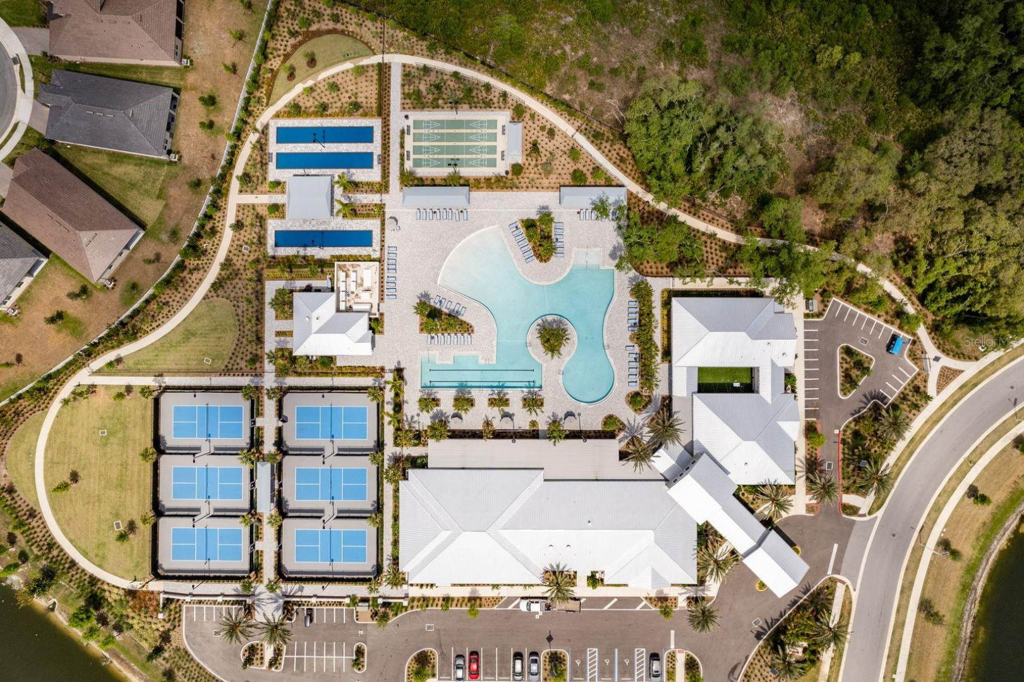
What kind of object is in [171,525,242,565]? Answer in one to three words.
sports court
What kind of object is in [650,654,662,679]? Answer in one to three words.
vehicle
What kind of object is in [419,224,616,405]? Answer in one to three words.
swimming pool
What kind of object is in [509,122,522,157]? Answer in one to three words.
building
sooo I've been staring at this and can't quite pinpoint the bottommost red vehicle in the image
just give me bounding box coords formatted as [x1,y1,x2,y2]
[468,654,480,679]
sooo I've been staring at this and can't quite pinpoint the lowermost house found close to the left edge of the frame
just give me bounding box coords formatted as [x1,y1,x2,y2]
[0,219,57,306]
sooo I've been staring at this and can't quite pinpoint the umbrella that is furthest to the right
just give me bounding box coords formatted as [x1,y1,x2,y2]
[563,414,577,427]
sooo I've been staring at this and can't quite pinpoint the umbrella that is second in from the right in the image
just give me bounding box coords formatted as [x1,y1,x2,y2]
[500,414,514,427]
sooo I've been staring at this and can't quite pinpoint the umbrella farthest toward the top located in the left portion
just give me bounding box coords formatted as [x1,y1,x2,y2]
[384,219,397,233]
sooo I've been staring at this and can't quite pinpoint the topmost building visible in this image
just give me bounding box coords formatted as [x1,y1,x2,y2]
[49,0,190,65]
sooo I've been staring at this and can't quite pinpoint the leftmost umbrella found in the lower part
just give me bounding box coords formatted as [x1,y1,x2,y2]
[450,414,464,427]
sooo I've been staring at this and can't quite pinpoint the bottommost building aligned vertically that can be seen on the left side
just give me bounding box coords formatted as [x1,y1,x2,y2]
[257,462,274,512]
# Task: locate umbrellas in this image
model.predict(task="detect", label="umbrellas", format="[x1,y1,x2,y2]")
[563,414,577,427]
[500,414,514,427]
[384,219,397,233]
[450,414,464,427]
